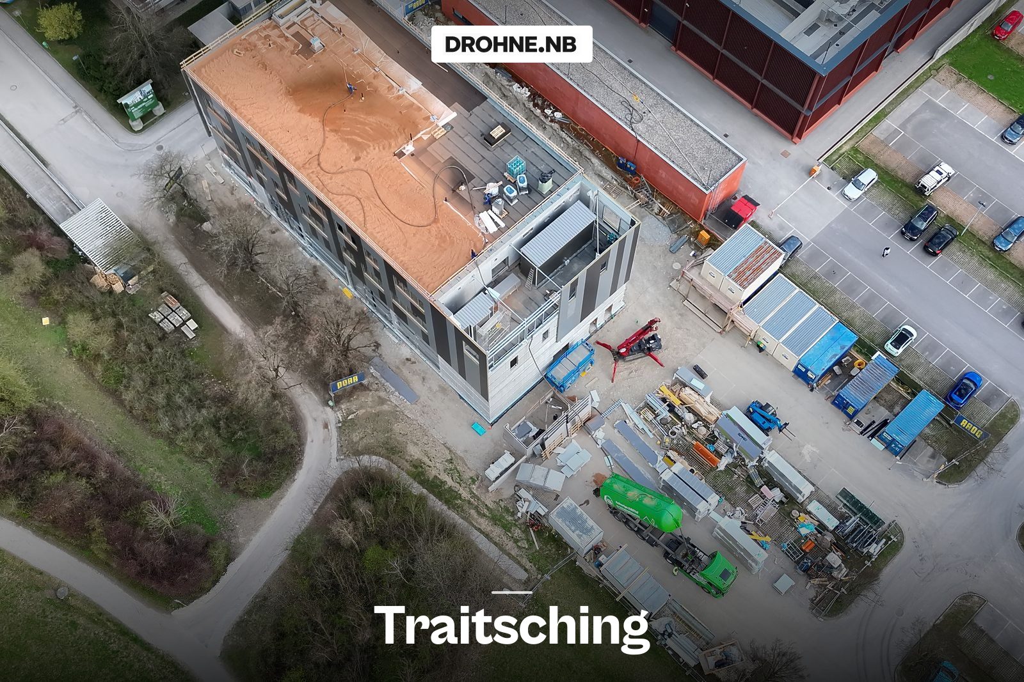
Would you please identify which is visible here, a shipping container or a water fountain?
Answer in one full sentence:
I can see a shipping container in this picture.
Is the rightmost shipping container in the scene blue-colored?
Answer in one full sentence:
Yes, the rightmost shipping container is blue.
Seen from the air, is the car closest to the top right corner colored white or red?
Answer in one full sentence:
The car closest to the top right corner is red.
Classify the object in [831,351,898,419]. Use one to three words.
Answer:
shipping container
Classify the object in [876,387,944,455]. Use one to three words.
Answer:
shipping container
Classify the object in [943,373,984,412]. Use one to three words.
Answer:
car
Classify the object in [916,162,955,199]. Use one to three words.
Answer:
car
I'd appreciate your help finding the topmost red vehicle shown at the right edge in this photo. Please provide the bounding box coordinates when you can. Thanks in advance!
[991,9,1024,39]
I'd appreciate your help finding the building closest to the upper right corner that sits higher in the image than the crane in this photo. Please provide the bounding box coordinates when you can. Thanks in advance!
[608,0,958,142]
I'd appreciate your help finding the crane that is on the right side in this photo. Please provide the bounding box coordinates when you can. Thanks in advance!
[595,314,666,384]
